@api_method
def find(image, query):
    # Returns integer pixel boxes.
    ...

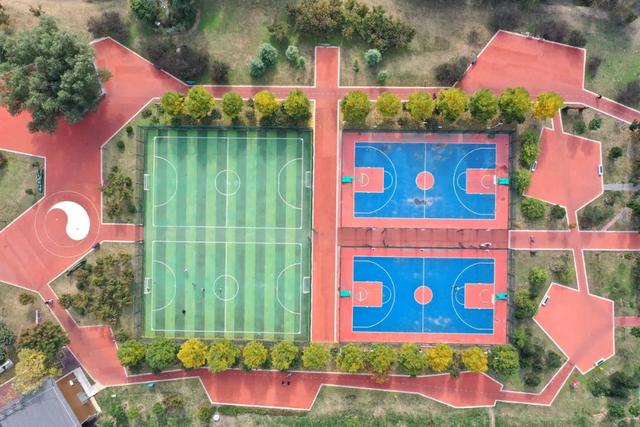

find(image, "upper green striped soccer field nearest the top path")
[145,130,310,236]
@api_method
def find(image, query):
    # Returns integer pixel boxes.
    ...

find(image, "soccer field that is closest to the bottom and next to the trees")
[144,234,310,339]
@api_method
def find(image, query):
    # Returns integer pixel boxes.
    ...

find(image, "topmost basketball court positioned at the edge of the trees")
[339,131,509,229]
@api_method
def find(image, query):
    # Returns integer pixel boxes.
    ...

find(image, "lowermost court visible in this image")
[339,246,508,345]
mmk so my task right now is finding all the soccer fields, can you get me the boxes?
[145,130,310,236]
[144,234,310,339]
